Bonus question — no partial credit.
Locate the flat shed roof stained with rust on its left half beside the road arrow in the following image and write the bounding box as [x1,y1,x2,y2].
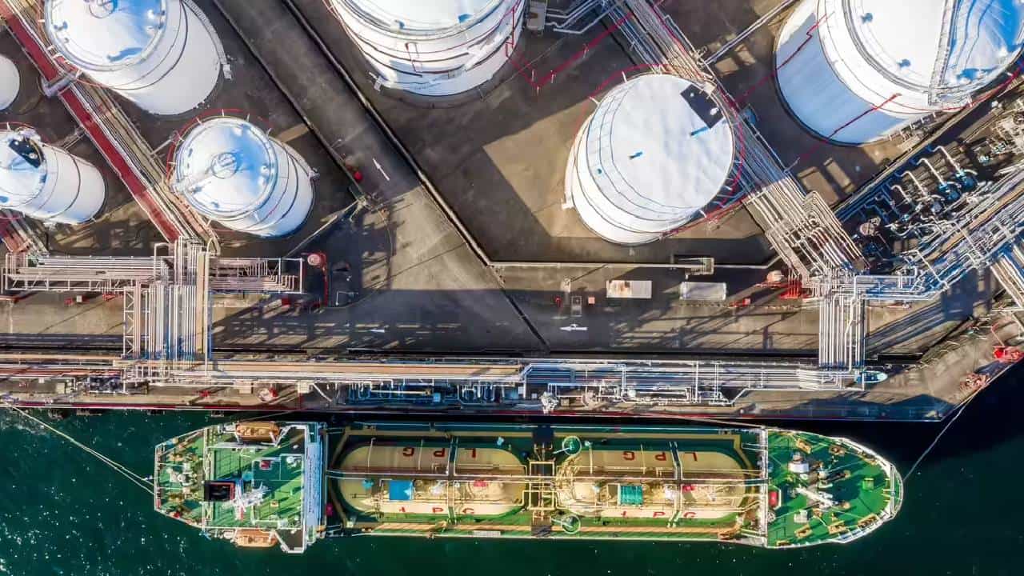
[604,280,652,299]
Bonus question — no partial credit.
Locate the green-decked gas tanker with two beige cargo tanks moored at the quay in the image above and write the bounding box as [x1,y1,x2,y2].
[155,418,903,557]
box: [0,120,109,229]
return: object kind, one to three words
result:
storage tank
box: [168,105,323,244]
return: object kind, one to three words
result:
storage tank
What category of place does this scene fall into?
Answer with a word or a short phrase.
industrial area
